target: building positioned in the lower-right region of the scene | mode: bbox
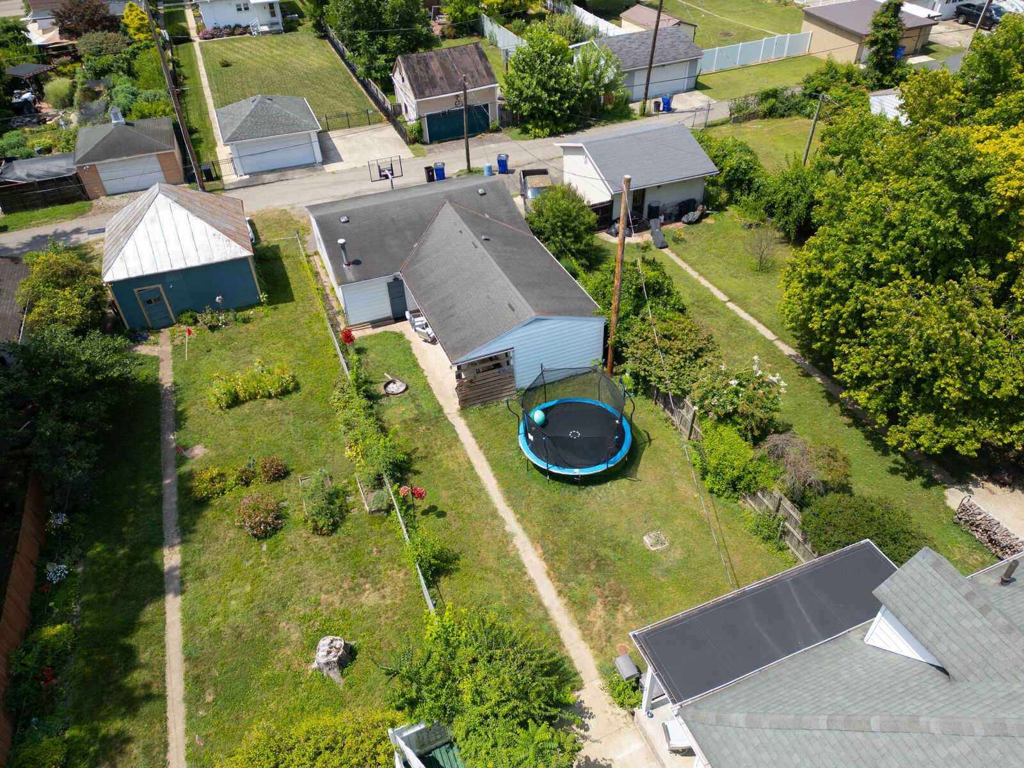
[629,538,1024,768]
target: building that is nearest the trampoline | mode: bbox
[305,176,618,410]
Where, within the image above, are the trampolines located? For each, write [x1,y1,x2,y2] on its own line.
[508,360,647,494]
